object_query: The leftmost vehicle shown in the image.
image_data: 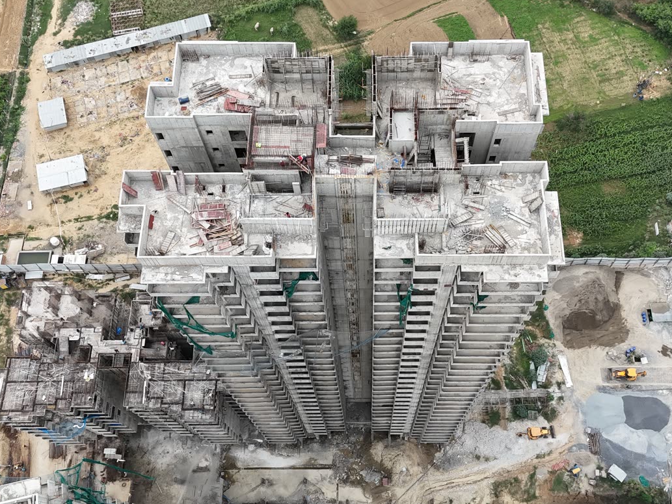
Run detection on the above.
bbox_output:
[515,425,557,439]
